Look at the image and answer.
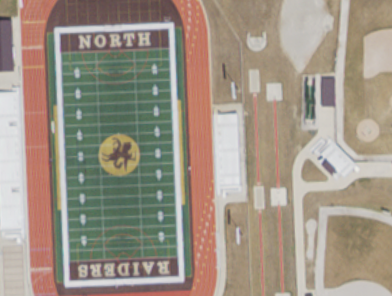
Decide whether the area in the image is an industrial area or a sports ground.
sports ground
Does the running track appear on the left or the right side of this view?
left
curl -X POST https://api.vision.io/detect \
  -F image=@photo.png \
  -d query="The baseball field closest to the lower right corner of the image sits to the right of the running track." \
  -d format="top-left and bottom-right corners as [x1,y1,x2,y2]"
[316,206,392,296]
